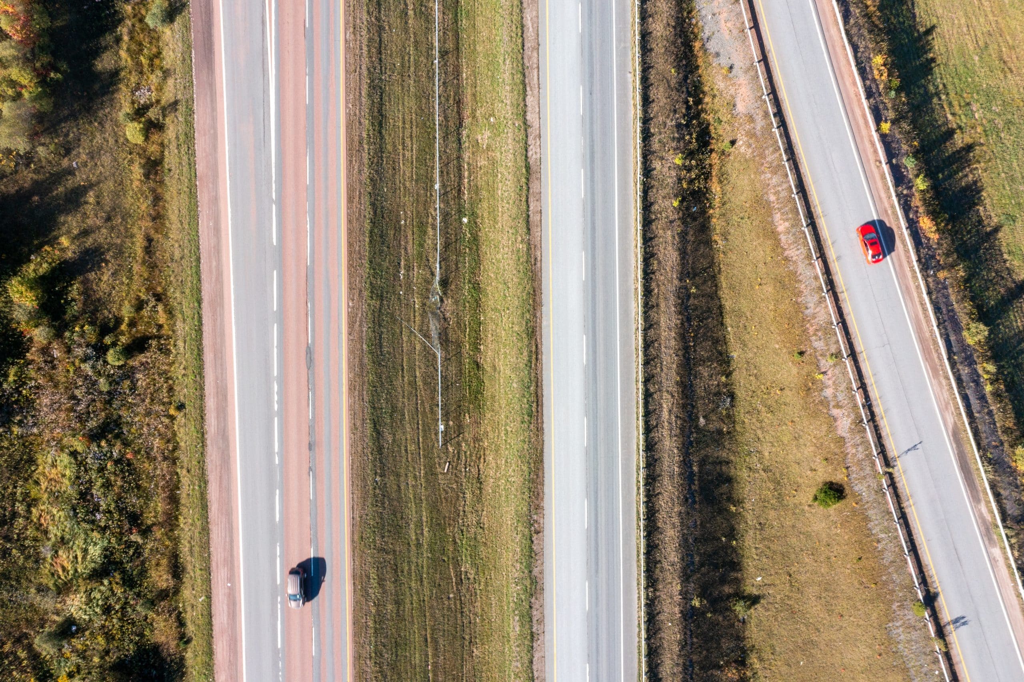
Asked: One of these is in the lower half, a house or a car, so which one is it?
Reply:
car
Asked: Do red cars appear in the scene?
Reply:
Yes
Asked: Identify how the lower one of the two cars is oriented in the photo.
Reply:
vertically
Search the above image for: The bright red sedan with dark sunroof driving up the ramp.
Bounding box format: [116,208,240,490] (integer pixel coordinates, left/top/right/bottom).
[859,221,887,263]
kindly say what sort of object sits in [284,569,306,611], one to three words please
car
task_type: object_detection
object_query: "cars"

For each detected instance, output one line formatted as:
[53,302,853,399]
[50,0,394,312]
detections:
[284,569,306,611]
[859,221,887,263]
